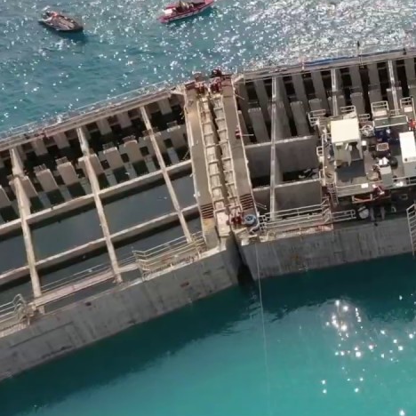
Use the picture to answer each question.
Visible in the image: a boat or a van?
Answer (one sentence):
There is a boat in the scene.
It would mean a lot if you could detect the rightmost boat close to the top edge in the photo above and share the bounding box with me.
[157,0,214,26]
